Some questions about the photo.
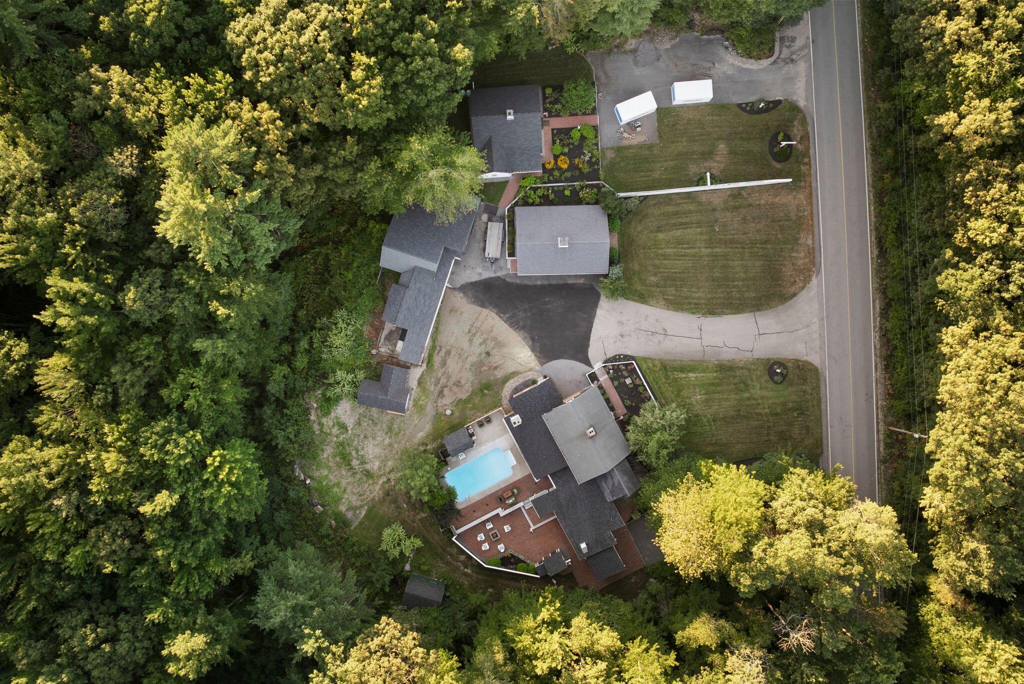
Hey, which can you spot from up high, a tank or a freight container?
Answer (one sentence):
The one in the frame is a freight container.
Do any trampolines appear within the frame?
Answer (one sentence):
No, the frame has no trampoline in it.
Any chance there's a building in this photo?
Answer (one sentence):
Yes, I can see a building in this picture.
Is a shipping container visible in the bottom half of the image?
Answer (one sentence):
No, no shipping container can be made out in the bottom half of the image.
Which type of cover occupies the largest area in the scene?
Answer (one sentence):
For the most part, this view shows trees.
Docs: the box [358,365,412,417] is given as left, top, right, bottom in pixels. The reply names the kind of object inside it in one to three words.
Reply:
shed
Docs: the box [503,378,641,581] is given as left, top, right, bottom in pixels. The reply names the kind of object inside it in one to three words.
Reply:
house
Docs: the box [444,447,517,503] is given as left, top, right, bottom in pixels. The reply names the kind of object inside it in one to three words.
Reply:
swimming pool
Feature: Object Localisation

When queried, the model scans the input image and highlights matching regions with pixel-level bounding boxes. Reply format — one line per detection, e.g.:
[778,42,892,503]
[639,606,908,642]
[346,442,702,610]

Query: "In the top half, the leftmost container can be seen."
[617,87,658,122]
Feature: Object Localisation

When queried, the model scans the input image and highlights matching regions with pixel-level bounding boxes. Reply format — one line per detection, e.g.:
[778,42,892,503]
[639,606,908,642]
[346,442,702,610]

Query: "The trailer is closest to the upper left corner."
[483,217,506,265]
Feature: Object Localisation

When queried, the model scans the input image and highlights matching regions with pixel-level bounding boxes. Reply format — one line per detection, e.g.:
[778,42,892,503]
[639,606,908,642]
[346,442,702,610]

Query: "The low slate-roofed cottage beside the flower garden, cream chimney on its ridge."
[471,85,545,182]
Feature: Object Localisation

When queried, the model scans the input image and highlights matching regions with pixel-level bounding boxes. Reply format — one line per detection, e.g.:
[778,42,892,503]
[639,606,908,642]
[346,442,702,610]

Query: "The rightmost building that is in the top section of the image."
[516,205,610,276]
